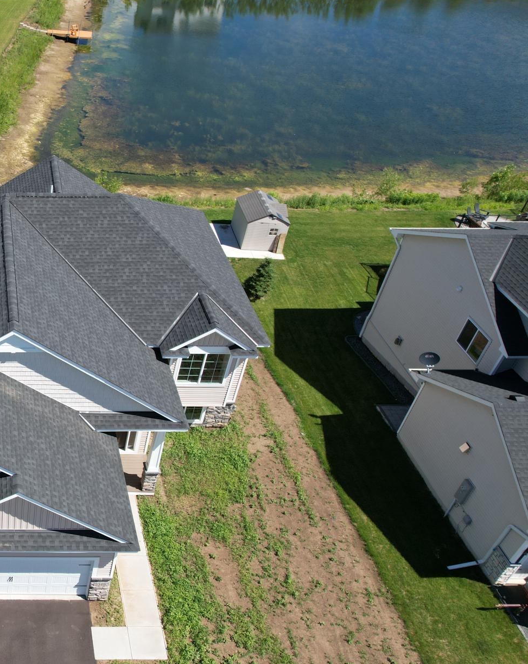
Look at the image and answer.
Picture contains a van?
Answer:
No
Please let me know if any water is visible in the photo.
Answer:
Yes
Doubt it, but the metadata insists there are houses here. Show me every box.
[0,154,271,602]
[359,208,528,598]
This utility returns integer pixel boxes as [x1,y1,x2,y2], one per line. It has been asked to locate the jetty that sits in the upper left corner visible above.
[50,19,95,43]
